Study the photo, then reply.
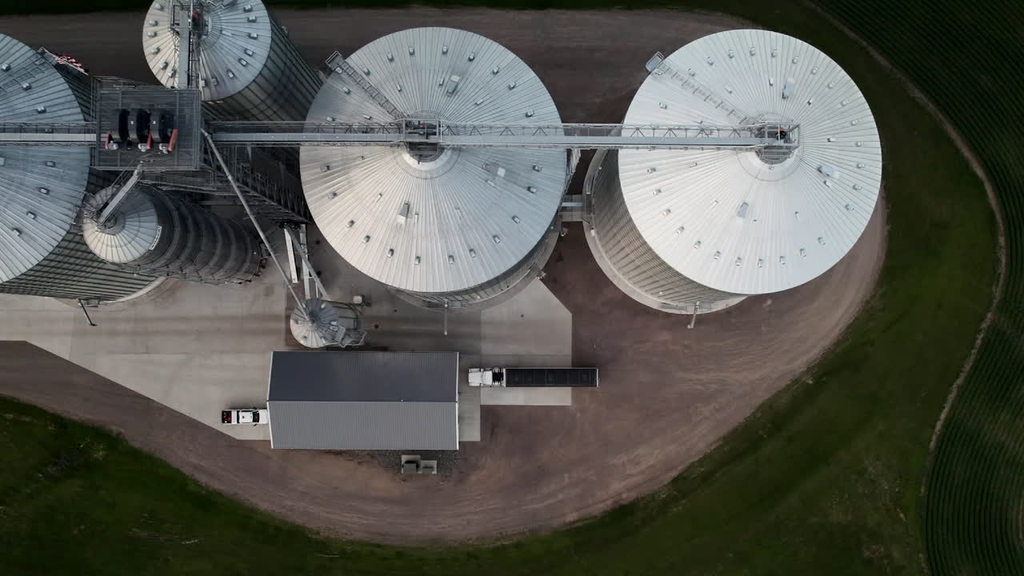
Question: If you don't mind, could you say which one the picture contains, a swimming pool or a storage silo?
storage silo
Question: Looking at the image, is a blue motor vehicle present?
No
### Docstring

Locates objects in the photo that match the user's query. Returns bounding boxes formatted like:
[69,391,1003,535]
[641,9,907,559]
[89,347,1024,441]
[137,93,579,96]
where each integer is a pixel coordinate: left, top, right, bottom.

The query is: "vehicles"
[221,407,265,426]
[467,367,600,388]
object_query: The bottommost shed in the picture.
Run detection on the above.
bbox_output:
[264,350,462,450]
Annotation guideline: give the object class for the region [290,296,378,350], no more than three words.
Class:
silo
